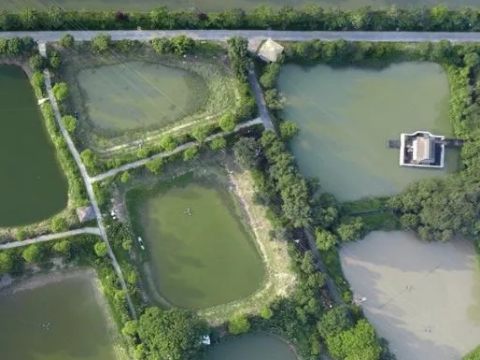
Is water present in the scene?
Yes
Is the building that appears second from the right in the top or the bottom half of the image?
top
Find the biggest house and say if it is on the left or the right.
right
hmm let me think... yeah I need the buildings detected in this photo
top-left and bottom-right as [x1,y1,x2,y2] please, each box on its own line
[391,131,445,168]
[75,203,96,223]
[253,39,284,65]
